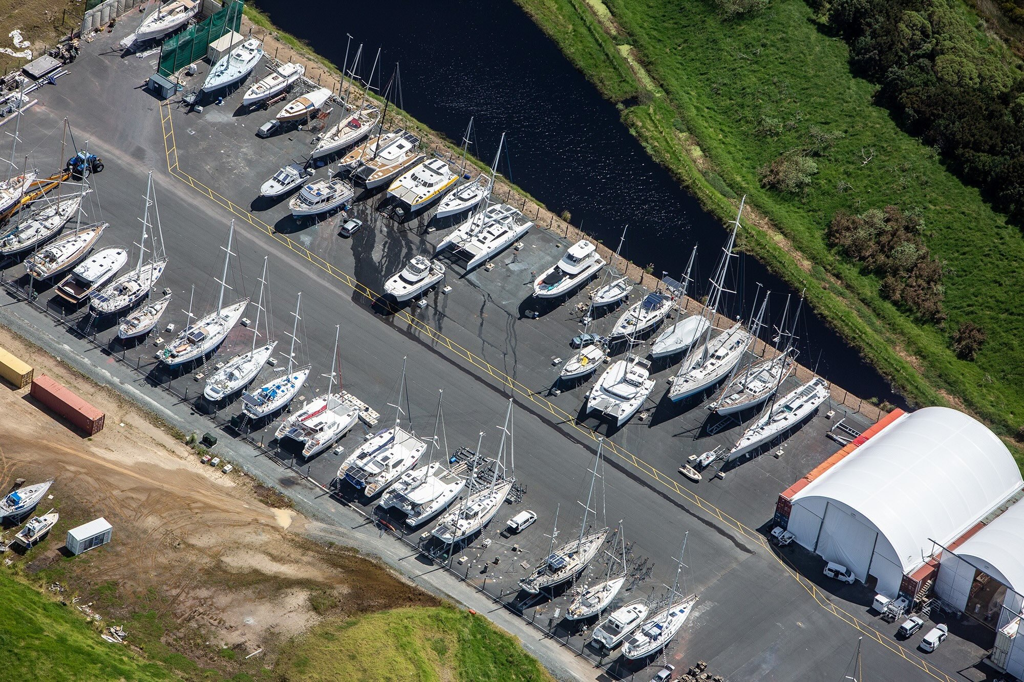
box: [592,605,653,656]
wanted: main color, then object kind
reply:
white boat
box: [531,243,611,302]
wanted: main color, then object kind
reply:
white boat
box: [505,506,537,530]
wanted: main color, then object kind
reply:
white vehicle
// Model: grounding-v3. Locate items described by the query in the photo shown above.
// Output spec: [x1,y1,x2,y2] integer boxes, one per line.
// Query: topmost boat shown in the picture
[134,0,212,38]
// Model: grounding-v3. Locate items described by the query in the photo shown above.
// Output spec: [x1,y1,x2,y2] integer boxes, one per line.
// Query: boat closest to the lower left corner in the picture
[17,514,62,550]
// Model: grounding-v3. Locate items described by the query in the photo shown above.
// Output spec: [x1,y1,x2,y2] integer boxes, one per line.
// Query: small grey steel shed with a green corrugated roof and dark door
[150,76,177,101]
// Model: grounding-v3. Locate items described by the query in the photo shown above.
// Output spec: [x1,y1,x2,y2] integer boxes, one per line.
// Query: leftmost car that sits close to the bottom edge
[651,657,672,682]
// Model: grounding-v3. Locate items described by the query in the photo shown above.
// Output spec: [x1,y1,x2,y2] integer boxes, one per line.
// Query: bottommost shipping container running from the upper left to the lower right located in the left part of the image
[30,374,105,434]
